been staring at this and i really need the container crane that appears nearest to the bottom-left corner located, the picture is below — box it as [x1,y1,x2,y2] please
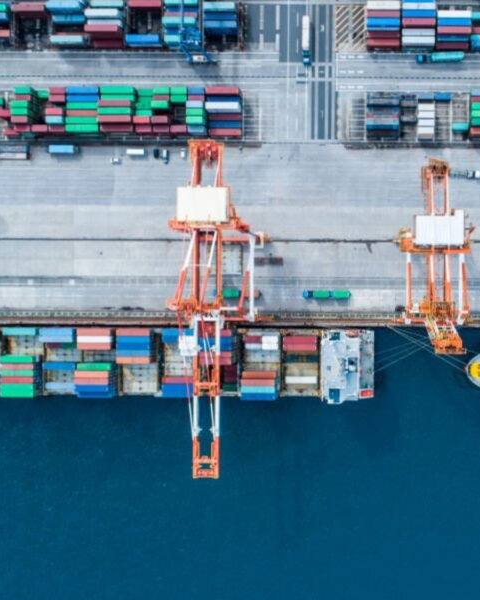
[156,138,271,478]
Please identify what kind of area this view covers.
port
